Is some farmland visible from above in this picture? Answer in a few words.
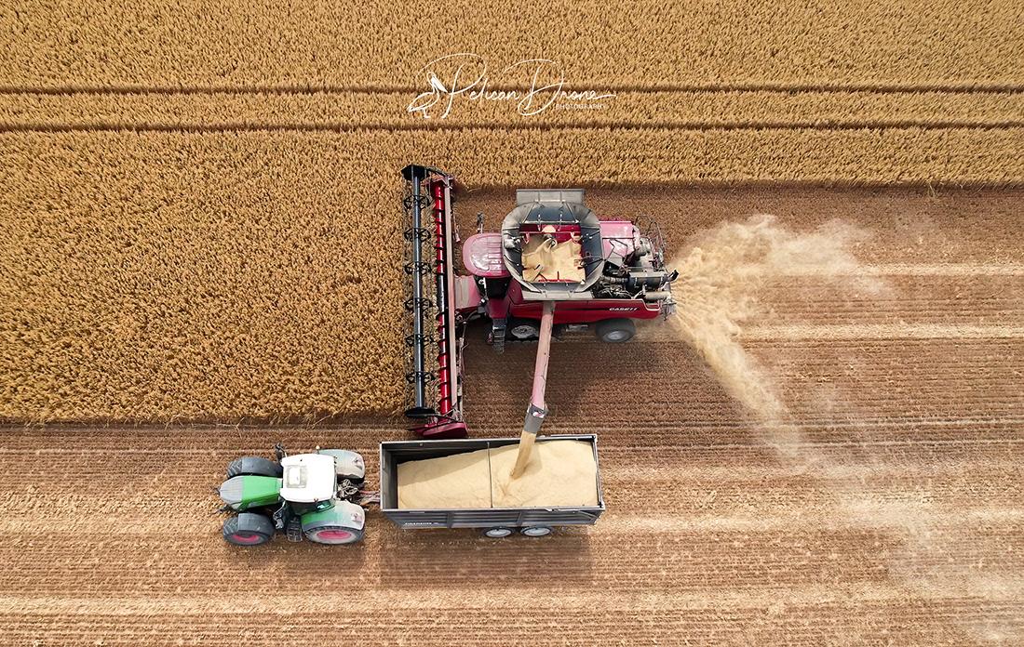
Yes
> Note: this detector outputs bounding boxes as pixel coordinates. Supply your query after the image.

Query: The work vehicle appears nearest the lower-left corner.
[212,447,374,546]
